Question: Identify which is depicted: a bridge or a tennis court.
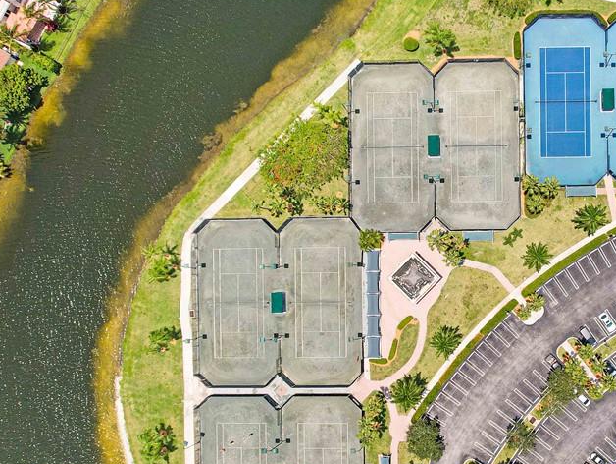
tennis court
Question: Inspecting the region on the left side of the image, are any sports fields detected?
No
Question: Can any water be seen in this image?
Yes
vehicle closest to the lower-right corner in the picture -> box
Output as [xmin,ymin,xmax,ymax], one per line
[589,450,609,464]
